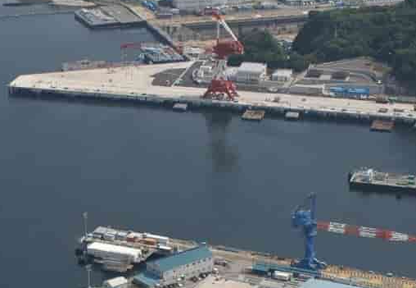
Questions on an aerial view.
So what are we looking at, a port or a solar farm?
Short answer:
port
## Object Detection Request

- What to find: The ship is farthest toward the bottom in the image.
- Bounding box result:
[91,244,145,274]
